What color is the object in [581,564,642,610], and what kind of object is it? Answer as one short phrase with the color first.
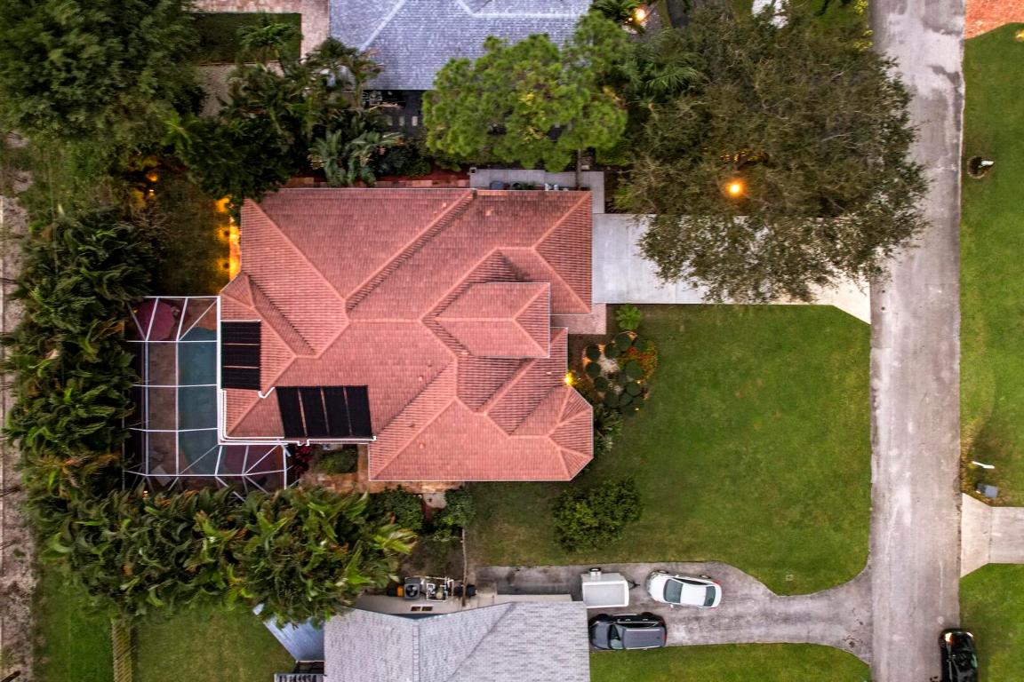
white trailer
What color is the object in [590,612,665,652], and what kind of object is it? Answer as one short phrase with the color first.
gray car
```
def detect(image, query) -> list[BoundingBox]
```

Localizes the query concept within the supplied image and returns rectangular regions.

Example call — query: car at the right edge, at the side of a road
[939,629,980,682]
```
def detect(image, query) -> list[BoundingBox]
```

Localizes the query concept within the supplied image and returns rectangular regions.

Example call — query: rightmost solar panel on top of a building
[276,385,371,439]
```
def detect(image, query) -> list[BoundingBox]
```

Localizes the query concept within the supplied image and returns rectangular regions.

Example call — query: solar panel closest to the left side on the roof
[221,324,260,388]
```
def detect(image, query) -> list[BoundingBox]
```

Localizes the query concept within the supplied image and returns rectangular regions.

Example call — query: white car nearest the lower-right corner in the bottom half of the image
[646,571,723,609]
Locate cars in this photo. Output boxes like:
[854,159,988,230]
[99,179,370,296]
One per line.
[590,612,665,652]
[646,571,723,609]
[939,629,980,682]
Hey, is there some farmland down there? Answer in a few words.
No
